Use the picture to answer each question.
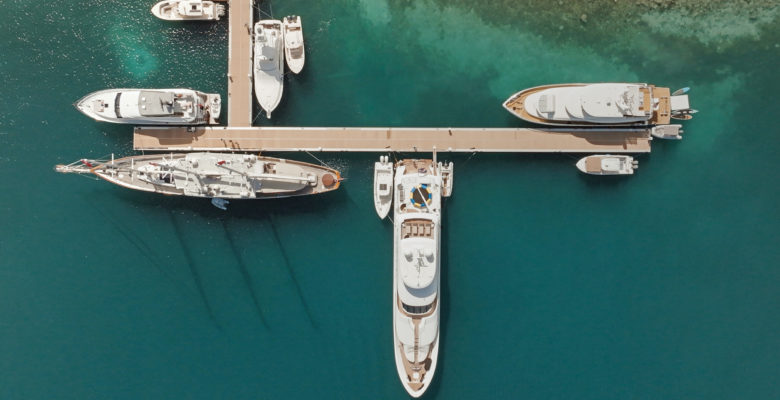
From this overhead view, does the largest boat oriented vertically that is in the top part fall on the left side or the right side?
left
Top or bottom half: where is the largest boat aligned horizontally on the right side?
top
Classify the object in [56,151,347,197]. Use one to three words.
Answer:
vessel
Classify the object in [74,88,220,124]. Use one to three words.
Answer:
boat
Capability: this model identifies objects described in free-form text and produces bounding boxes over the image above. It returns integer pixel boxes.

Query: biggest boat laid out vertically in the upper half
[254,19,284,119]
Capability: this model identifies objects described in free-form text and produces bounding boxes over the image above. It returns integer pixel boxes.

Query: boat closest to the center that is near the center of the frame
[375,156,393,219]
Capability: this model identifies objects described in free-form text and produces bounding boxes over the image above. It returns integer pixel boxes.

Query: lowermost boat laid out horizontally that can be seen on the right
[577,155,638,174]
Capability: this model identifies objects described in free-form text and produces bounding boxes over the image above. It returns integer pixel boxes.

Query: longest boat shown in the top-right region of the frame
[502,84,672,127]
